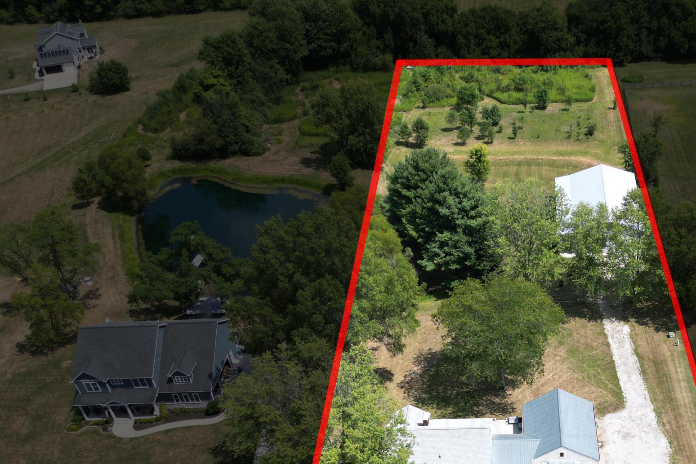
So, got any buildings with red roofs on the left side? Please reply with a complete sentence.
No, the scene shows no building with a red roof on the left side.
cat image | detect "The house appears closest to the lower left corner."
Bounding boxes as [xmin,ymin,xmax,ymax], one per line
[64,314,247,426]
